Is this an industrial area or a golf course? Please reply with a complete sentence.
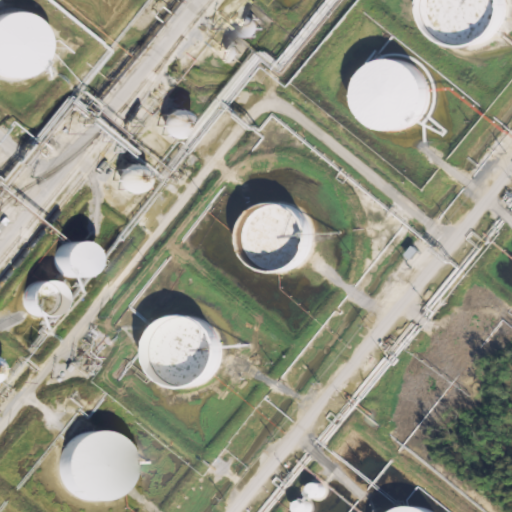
The picture captures an industrial area.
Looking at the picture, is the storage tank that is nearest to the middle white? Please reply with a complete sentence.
Yes, the storage tank that is nearest to the middle is indeed white.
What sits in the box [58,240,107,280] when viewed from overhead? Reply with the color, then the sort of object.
white storage tank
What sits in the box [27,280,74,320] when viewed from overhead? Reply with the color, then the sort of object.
white storage tank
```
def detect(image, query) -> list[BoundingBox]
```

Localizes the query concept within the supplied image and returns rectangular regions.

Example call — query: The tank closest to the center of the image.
[233,199,315,276]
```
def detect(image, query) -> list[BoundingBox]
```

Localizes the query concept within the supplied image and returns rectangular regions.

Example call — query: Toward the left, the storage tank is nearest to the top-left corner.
[0,10,56,85]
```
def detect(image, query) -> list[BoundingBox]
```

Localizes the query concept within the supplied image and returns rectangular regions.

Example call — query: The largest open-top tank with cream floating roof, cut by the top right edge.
[414,0,508,50]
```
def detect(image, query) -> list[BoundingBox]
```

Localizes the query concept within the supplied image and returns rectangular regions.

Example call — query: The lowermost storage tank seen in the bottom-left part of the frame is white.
[60,428,140,504]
